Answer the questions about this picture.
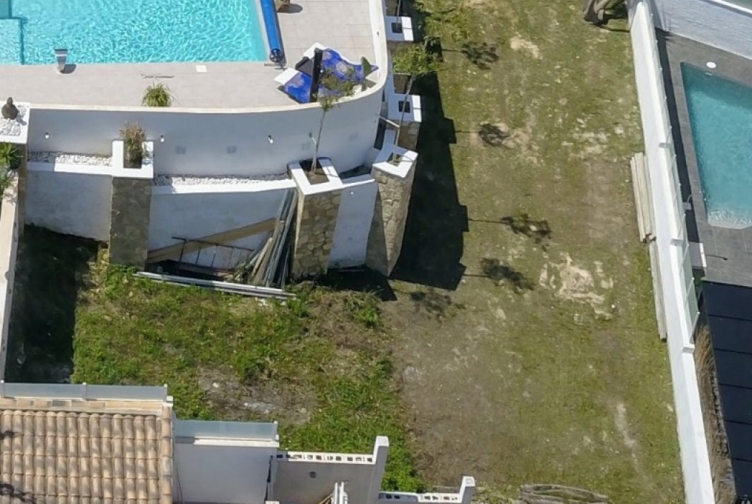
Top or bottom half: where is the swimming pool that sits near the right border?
top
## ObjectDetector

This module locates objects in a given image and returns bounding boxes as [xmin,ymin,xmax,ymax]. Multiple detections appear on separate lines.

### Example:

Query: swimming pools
[0,0,263,65]
[683,64,752,231]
